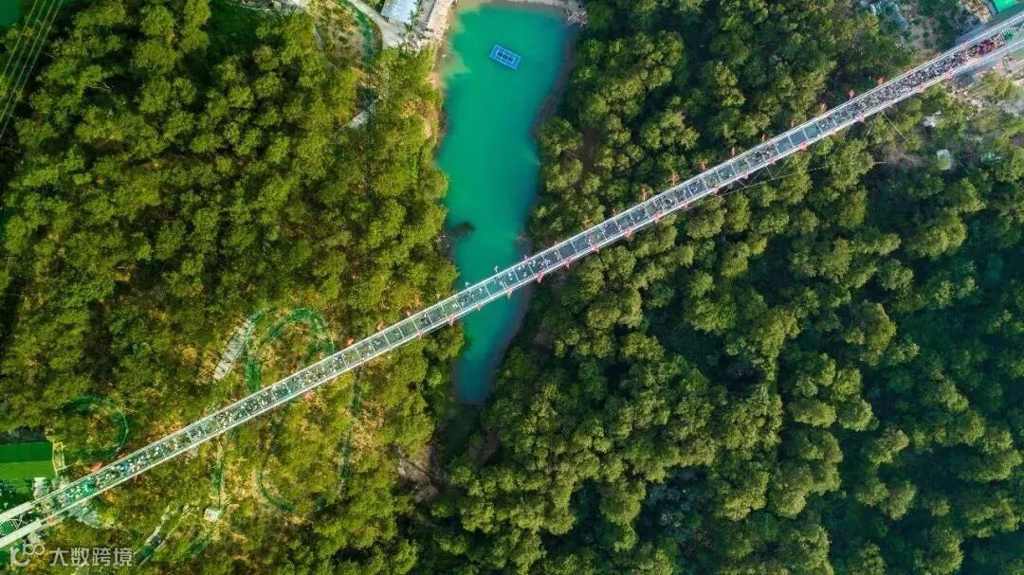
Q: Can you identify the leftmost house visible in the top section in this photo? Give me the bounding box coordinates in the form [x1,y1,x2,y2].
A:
[382,0,421,34]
